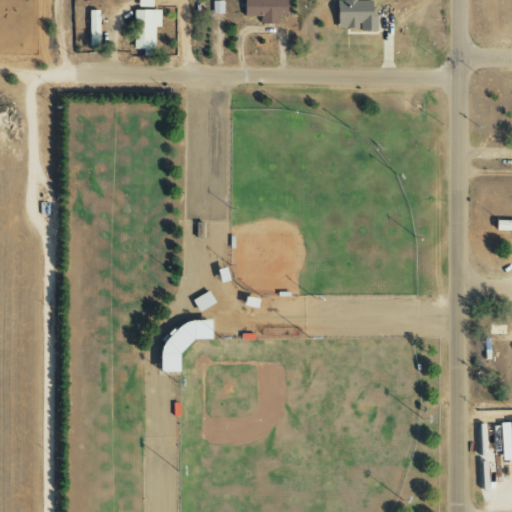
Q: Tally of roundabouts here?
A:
zero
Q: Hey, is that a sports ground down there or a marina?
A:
sports ground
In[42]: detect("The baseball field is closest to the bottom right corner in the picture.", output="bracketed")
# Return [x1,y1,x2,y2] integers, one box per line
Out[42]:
[181,339,440,512]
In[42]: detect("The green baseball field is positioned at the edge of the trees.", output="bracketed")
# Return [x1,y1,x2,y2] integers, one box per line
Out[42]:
[231,109,416,296]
